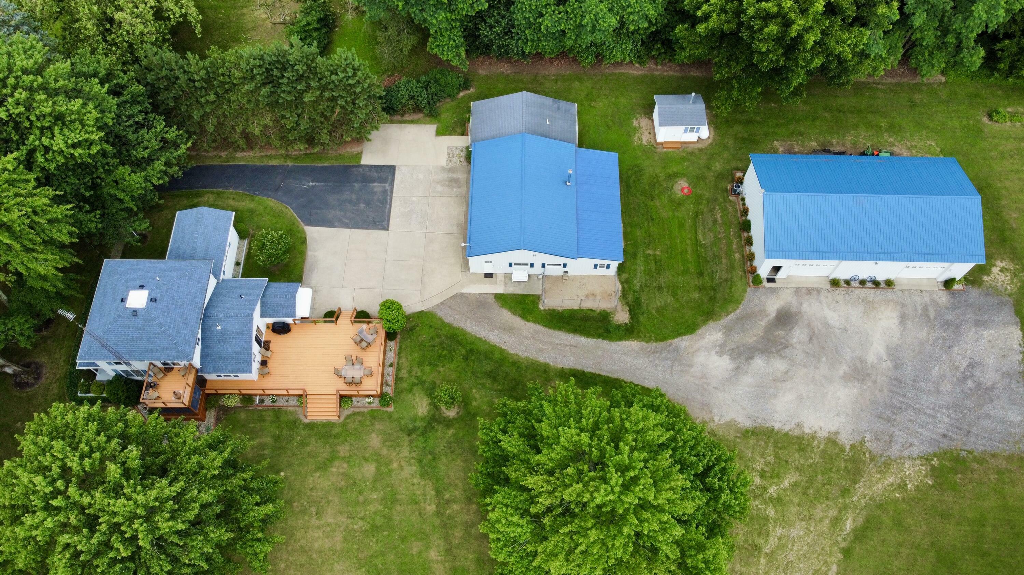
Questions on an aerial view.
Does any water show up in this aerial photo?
No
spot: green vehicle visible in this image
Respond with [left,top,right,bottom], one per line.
[862,142,895,156]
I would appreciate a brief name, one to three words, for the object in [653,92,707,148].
shed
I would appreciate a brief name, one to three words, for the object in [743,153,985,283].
barn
